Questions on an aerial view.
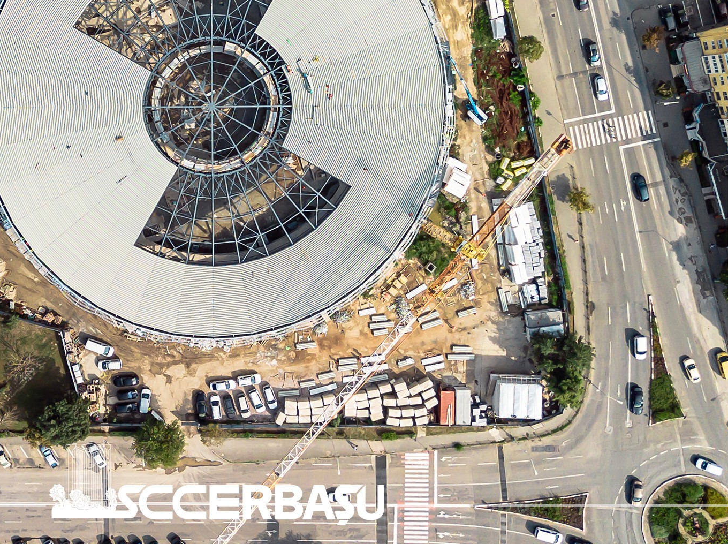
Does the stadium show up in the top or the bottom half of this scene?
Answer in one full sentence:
You can find the stadium in the top half.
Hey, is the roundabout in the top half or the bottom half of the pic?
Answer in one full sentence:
The roundabout is in the bottom half of the image.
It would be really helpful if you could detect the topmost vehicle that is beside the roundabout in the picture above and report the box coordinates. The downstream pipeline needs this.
[694,456,723,475]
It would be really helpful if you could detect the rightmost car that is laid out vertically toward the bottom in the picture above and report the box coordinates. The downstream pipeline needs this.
[715,350,728,377]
